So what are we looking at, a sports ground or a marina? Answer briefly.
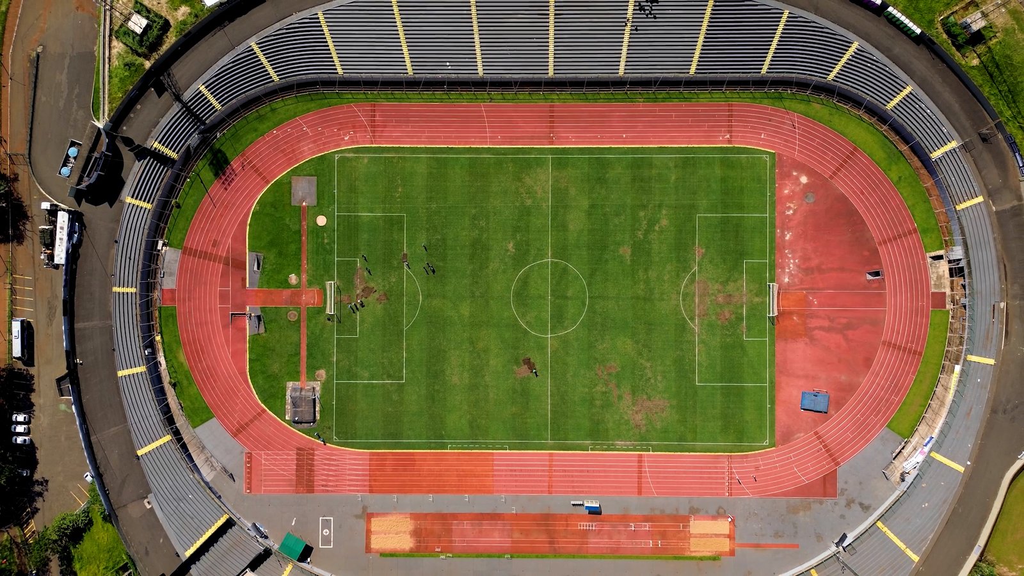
sports ground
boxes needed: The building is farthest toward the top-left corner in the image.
[59,120,127,194]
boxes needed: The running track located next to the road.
[175,103,930,498]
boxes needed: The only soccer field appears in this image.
[248,147,776,453]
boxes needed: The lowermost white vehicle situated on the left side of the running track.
[82,468,95,486]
